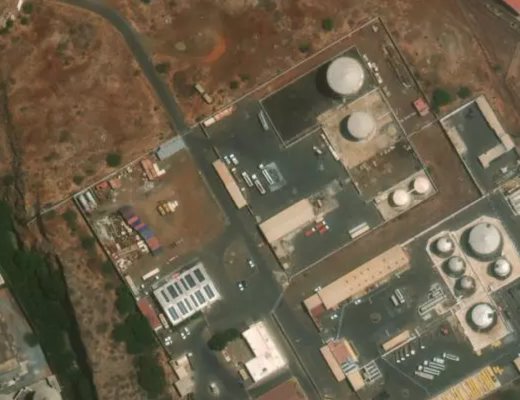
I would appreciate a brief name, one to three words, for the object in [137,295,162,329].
building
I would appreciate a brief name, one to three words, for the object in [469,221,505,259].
storage tank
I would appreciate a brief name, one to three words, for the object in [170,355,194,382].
house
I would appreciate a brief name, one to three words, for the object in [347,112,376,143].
storage tank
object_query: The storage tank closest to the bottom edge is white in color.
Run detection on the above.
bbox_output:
[468,303,498,332]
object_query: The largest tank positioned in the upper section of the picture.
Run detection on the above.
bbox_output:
[327,57,367,97]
